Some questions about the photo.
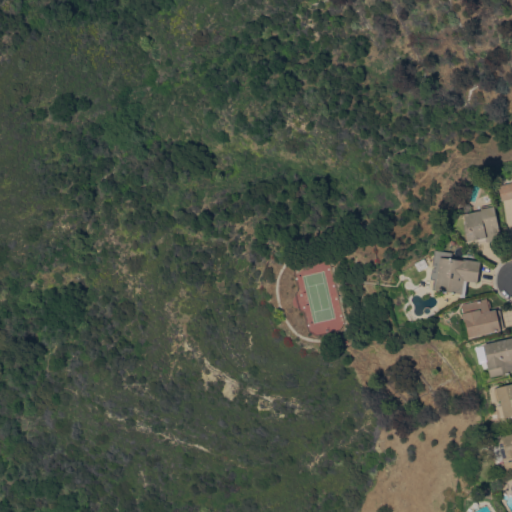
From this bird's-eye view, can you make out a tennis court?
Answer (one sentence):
Yes, a tennis court is visible in the scene.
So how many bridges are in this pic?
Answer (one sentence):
There are no bridges in the image.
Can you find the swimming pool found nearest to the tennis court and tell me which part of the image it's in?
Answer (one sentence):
Look in the right portion of the view to spot the swimming pool found nearest to the tennis court.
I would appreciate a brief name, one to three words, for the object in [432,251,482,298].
house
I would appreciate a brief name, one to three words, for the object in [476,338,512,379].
house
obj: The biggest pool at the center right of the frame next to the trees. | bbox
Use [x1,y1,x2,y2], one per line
[412,295,437,316]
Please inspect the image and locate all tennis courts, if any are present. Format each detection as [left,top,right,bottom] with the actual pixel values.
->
[294,262,344,335]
